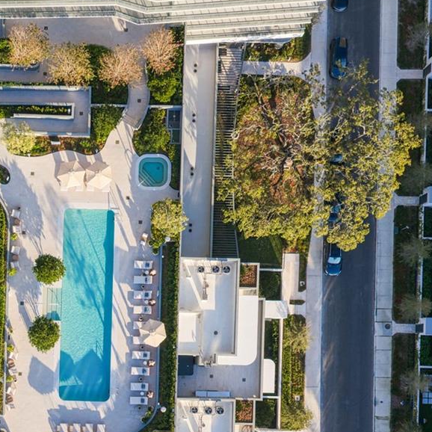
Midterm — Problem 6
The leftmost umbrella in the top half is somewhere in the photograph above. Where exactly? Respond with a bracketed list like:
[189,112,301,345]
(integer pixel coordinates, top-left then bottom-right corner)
[57,158,83,186]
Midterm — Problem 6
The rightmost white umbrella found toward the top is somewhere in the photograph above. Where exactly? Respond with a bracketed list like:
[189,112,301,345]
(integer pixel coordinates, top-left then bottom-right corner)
[85,160,112,186]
